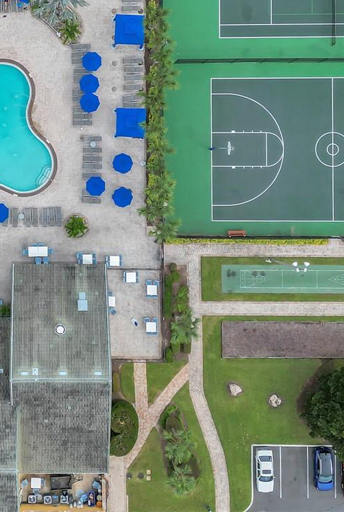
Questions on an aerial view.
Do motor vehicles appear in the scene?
Yes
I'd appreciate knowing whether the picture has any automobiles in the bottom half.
Yes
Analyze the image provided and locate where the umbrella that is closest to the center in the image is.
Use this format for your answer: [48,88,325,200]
[111,186,133,208]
